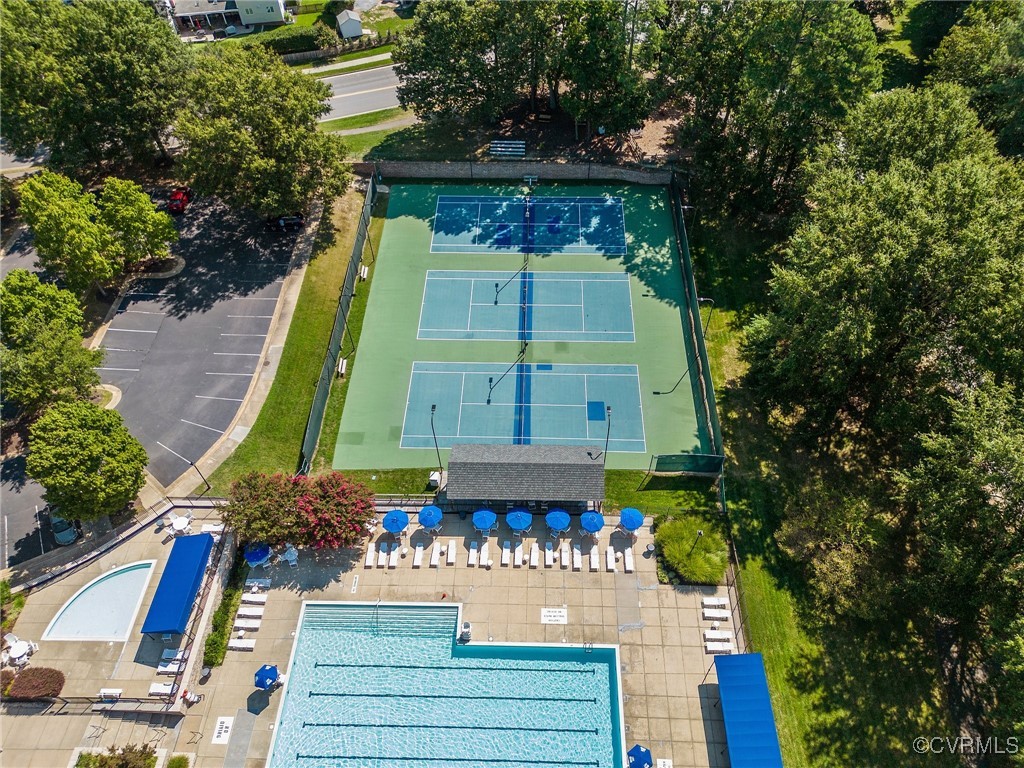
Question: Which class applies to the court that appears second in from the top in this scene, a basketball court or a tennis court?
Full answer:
Looking closely, the court that appears second in from the top is a tennis court.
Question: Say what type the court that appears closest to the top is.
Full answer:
I'd say the court that appears closest to the top is a tennis court.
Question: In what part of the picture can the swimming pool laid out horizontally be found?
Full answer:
The swimming pool laid out horizontally is in the bottom part of the image.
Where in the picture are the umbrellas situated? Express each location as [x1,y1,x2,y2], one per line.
[626,744,655,768]
[544,510,572,535]
[578,512,605,537]
[416,508,442,533]
[242,544,271,569]
[471,510,497,533]
[618,511,645,536]
[380,511,408,536]
[504,511,530,535]
[252,664,280,692]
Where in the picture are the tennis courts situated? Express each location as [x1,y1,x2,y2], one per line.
[400,361,646,452]
[430,196,627,254]
[417,270,636,342]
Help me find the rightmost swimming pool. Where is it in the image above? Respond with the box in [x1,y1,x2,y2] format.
[265,599,627,768]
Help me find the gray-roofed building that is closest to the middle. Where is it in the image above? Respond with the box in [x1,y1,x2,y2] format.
[444,445,605,514]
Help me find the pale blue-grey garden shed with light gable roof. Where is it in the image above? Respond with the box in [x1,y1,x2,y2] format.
[340,5,366,38]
